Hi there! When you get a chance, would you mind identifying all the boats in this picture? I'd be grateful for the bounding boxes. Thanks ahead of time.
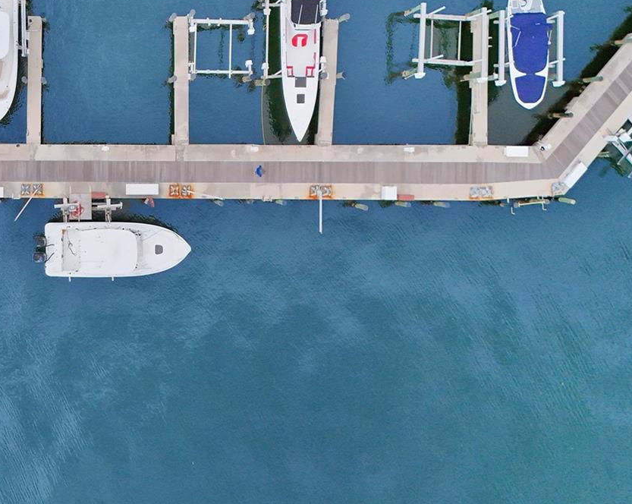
[0,0,19,119]
[504,0,553,110]
[280,0,321,142]
[33,222,192,277]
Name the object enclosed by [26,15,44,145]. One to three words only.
pier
